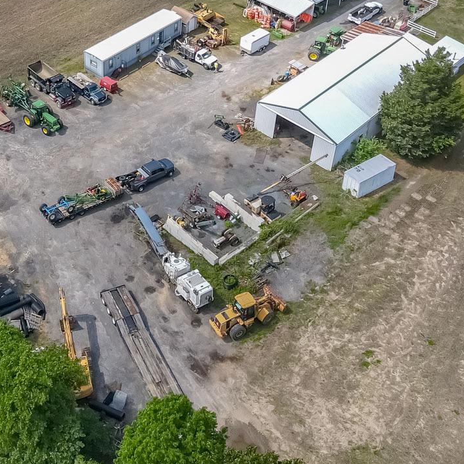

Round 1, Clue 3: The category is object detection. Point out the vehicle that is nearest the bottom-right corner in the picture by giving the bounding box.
[208,294,290,347]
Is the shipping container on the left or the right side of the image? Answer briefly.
right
